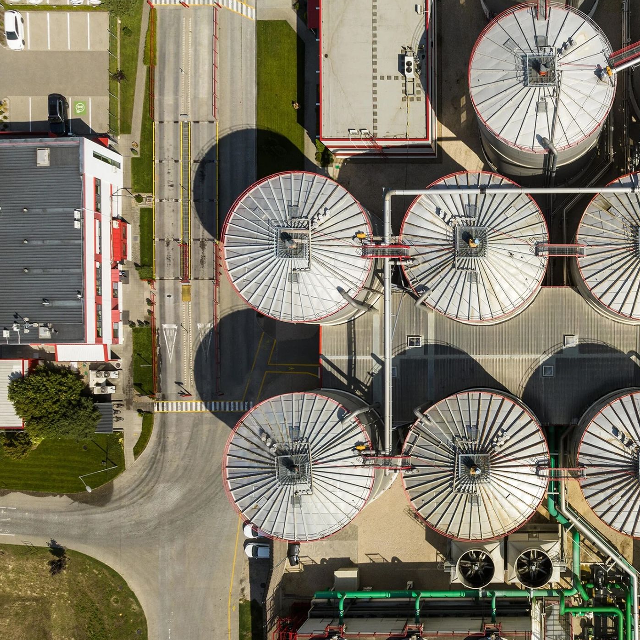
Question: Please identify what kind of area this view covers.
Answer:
industrial area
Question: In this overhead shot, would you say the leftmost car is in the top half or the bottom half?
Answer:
top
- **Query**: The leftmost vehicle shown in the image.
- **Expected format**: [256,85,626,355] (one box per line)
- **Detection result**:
[0,8,23,47]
